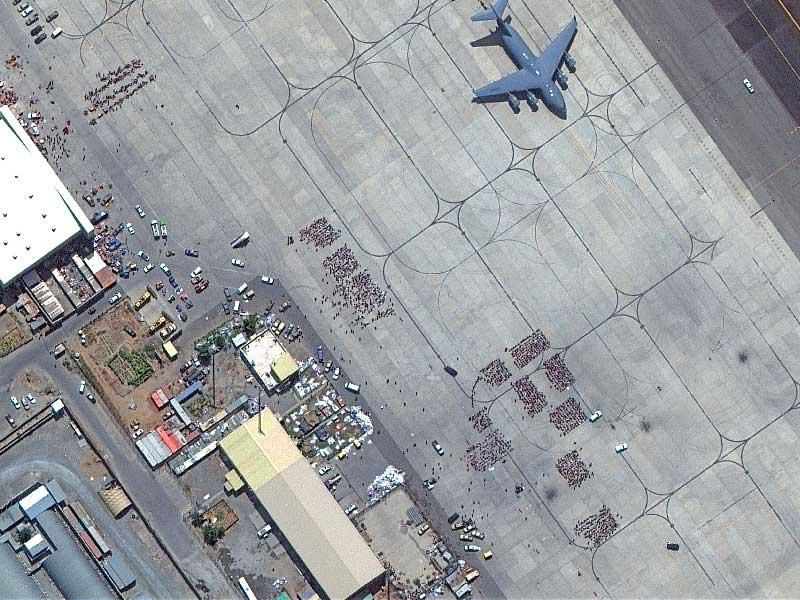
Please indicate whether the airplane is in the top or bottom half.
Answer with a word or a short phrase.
top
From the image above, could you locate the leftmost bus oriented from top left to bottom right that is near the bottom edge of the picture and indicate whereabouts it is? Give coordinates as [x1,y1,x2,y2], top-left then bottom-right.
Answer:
[238,578,259,600]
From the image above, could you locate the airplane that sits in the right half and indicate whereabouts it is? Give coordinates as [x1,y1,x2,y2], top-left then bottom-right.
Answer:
[467,0,578,120]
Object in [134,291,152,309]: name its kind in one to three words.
vehicle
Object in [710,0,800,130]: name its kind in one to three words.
runway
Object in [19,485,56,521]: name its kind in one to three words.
house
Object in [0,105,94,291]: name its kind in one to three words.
building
